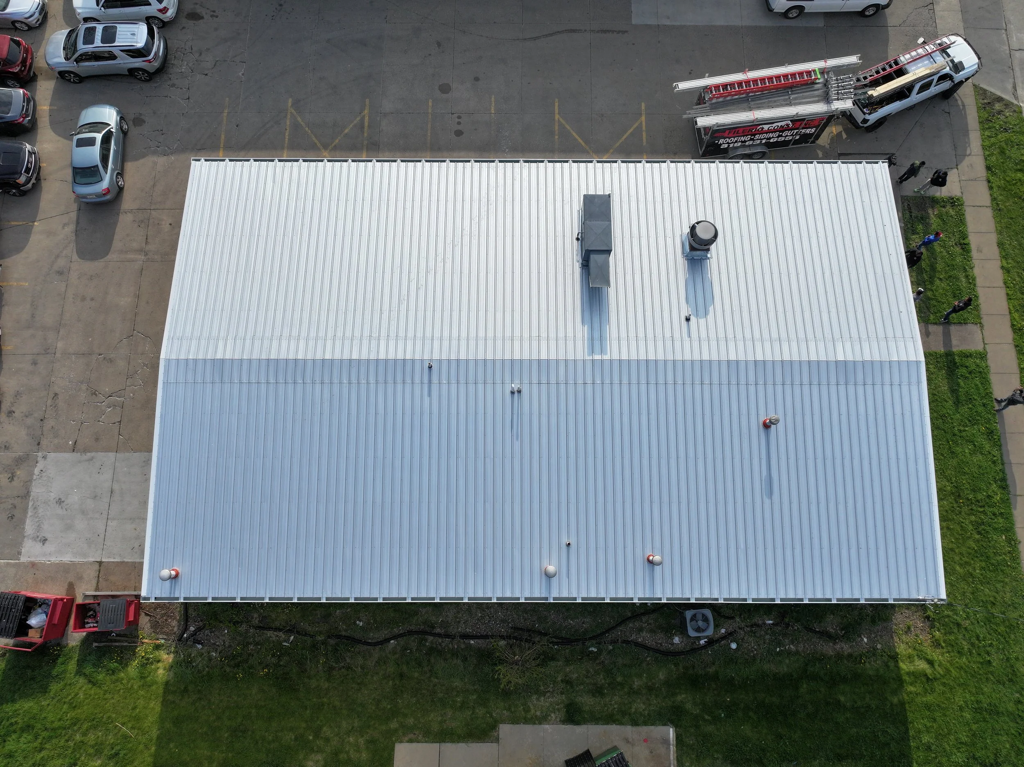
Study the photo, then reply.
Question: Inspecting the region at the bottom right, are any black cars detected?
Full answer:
No, at the bottom right there is no black car.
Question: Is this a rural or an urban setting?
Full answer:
The area shown here is urban.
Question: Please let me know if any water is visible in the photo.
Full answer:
No, there's no water in this view.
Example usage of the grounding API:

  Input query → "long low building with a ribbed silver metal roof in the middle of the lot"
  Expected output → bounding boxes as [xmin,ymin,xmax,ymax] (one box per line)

[139,157,948,603]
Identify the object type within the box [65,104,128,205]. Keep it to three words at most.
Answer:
car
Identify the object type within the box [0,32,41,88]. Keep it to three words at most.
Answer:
car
